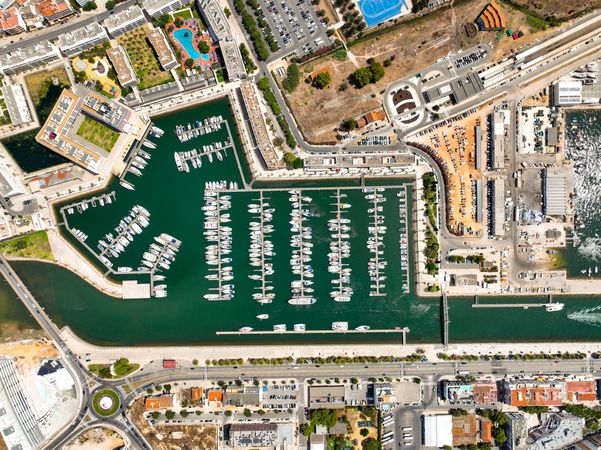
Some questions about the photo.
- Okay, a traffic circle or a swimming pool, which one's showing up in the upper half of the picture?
swimming pool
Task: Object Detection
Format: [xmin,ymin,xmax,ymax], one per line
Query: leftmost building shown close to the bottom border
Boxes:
[0,340,53,450]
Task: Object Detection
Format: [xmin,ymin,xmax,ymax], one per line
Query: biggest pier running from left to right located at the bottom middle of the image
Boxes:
[216,328,410,343]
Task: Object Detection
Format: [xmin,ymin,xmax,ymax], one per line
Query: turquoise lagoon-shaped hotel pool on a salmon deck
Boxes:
[166,17,220,70]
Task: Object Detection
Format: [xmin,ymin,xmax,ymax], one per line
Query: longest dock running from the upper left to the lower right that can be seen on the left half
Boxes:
[60,191,154,297]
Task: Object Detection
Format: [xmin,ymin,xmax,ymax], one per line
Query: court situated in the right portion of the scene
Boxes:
[357,0,410,28]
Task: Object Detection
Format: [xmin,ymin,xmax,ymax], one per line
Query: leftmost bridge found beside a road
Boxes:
[0,251,70,349]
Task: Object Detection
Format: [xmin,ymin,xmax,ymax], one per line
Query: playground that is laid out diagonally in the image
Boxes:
[72,57,121,97]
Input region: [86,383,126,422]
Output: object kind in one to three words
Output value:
roundabout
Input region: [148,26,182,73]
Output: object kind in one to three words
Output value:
building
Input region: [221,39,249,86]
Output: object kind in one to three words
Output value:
building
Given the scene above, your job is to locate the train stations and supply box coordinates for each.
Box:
[483,18,601,91]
